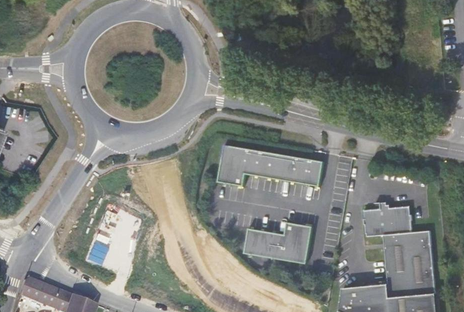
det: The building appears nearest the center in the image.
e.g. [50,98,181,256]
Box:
[216,144,322,190]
